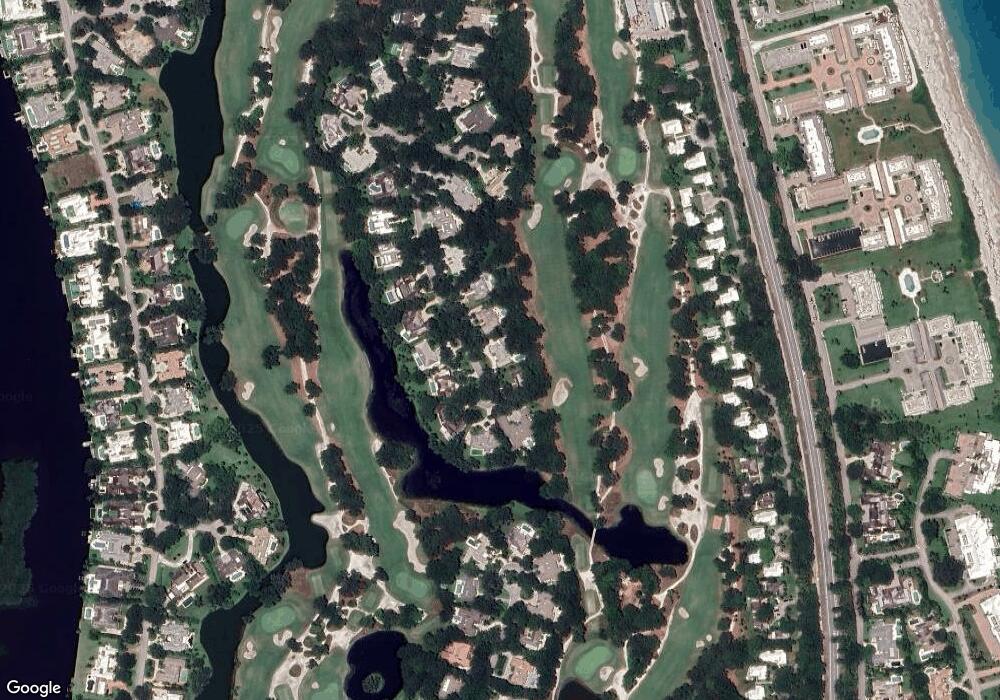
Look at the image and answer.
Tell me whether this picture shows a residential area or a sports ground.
residential area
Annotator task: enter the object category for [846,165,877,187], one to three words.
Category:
building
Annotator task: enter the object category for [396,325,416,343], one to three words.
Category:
swimming pool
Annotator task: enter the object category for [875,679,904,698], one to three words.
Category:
house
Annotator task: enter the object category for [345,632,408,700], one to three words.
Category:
pond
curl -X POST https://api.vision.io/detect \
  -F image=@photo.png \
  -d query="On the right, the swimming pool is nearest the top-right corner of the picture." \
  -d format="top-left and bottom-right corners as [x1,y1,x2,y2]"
[858,125,883,144]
